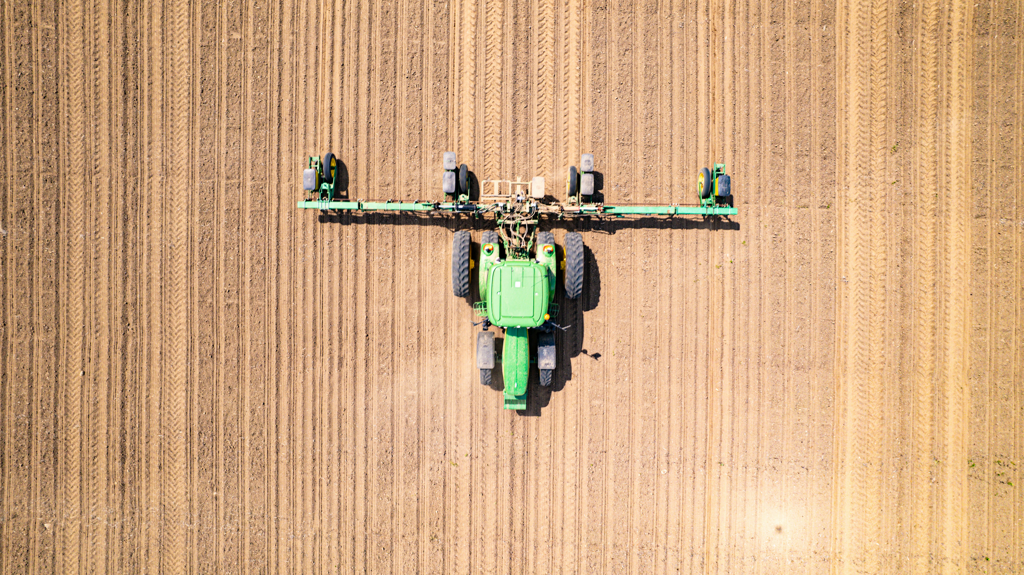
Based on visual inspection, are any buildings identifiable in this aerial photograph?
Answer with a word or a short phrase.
No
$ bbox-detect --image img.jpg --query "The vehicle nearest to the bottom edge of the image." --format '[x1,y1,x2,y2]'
[452,220,583,410]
